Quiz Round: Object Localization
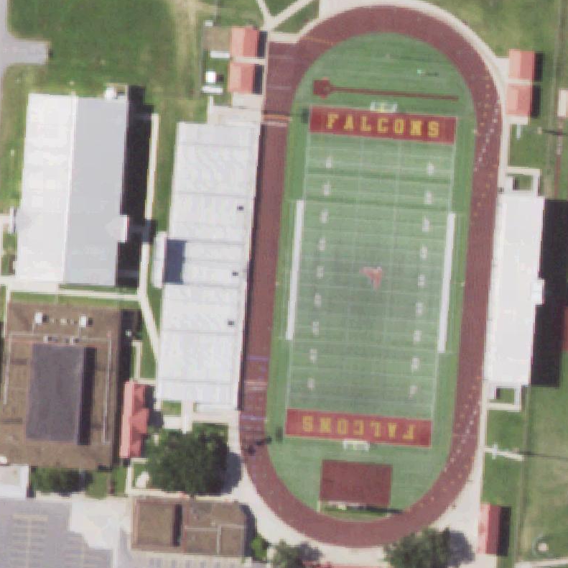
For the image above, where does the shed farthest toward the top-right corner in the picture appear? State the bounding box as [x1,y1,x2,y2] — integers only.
[509,49,537,80]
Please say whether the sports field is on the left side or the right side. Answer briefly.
right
